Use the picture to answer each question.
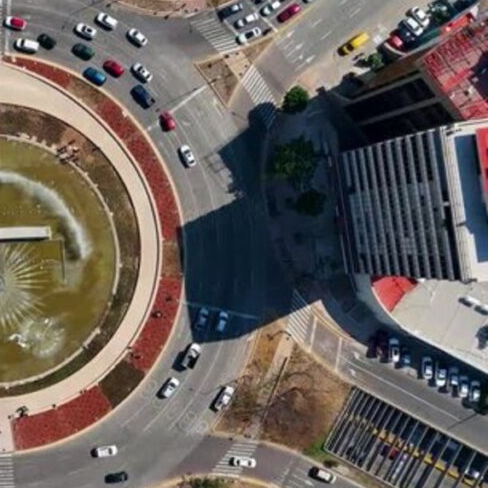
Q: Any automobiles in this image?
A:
Yes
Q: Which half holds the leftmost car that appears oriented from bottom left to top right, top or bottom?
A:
bottom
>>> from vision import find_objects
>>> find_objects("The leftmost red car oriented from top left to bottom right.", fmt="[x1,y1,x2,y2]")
[103,59,126,77]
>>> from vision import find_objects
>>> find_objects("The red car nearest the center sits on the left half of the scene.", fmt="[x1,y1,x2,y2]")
[160,112,176,132]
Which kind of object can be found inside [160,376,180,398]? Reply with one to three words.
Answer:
car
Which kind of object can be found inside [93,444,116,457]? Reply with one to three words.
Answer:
vehicle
